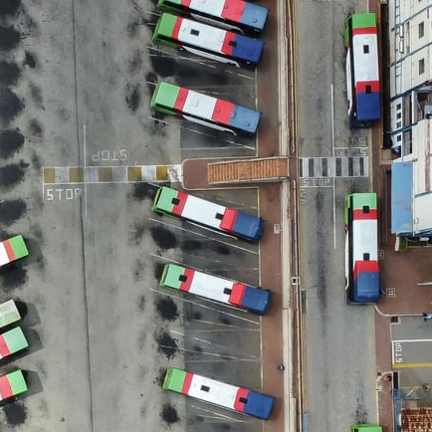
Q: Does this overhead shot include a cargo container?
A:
No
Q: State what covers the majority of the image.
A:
paved ground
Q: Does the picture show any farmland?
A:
No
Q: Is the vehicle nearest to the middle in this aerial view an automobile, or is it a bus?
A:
bus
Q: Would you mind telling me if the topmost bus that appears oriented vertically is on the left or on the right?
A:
right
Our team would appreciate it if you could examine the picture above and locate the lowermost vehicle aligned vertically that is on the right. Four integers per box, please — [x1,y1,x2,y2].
[340,191,378,305]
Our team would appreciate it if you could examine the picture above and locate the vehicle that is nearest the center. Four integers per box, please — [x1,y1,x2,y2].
[147,187,264,244]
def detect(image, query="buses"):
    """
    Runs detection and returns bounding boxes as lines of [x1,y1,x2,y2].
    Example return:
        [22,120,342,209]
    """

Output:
[0,327,29,358]
[151,0,269,37]
[0,235,29,267]
[340,191,378,305]
[146,83,262,139]
[147,14,264,70]
[156,368,273,421]
[147,187,264,244]
[0,300,21,327]
[340,12,379,128]
[0,369,28,400]
[153,264,271,316]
